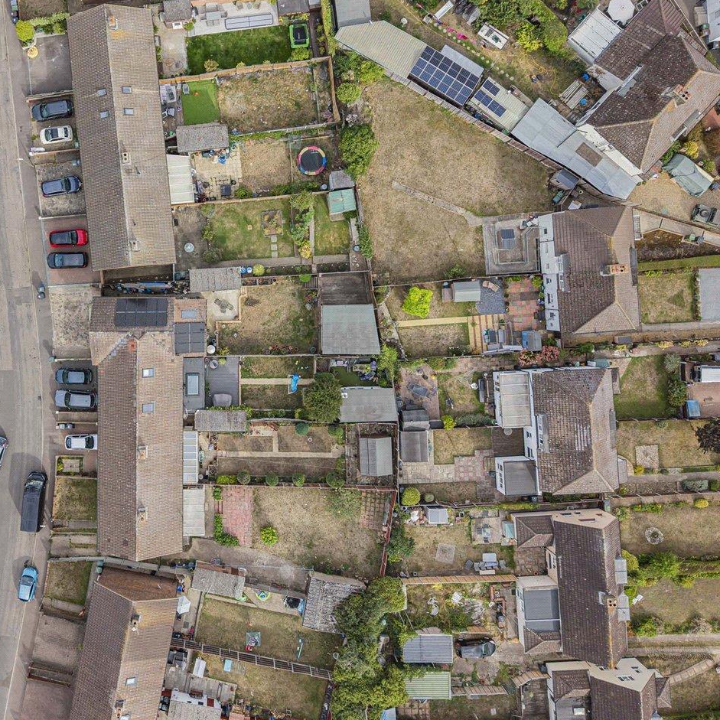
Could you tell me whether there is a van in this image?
Yes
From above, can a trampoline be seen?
Yes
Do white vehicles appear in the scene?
Yes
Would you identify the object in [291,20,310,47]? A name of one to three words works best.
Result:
trampoline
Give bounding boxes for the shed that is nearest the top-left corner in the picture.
[164,0,193,26]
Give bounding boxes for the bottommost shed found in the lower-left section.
[167,683,221,720]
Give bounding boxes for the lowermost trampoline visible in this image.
[297,145,328,175]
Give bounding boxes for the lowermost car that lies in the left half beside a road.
[17,565,39,604]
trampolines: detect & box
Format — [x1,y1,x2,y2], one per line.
[297,145,328,175]
[291,20,310,47]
